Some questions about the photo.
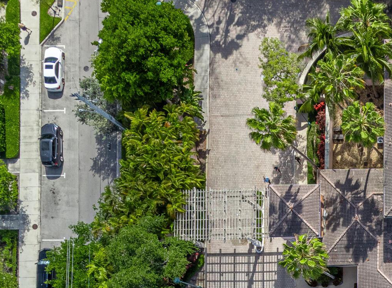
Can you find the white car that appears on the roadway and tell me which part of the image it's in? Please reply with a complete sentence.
The white car that appears on the roadway is located in the top left region of the scene.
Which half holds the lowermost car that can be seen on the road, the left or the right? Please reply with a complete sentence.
The lowermost car that can be seen on the road appears in the left half of the scene.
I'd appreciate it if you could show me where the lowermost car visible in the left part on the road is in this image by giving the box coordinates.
[39,124,65,168]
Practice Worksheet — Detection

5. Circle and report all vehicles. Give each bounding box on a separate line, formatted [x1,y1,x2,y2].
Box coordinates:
[39,124,65,168]
[42,48,66,93]
[30,250,53,288]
